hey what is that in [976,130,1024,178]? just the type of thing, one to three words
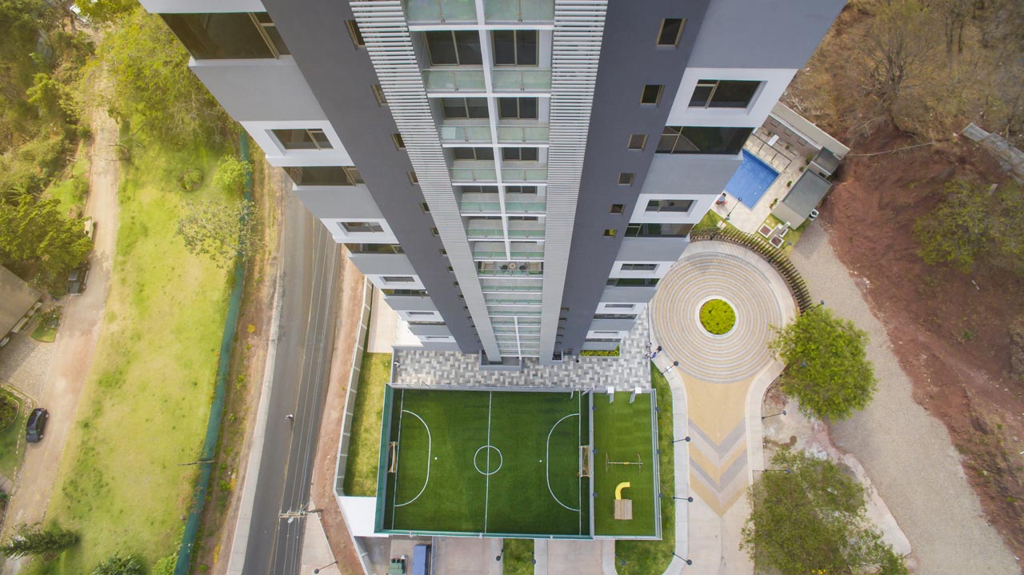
shed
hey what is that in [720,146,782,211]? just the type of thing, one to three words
swimming pool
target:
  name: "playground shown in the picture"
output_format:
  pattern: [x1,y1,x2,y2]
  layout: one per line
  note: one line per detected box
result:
[593,392,656,537]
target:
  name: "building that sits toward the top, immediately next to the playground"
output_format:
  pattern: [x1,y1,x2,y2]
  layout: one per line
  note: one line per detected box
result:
[138,0,838,362]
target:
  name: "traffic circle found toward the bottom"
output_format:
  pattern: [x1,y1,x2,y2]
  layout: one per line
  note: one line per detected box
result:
[640,240,800,514]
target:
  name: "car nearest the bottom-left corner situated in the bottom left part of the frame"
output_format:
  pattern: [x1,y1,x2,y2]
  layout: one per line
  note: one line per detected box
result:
[21,408,47,442]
